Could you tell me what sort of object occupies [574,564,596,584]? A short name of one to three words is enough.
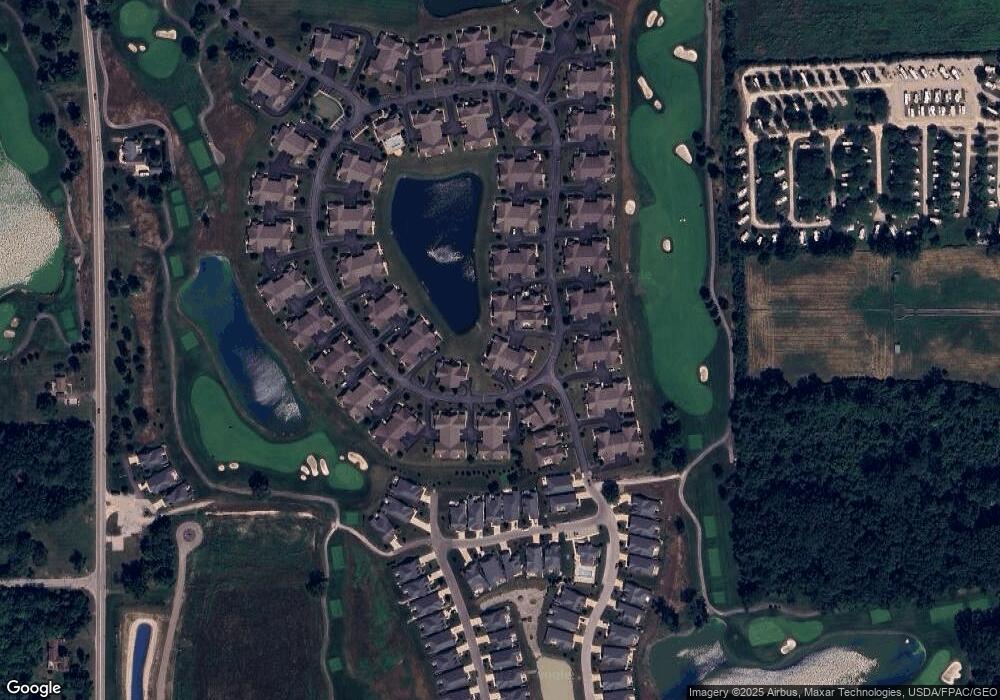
swimming pool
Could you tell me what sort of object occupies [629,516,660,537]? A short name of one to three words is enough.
house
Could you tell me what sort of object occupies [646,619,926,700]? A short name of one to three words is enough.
pond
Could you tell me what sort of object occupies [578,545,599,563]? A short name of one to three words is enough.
building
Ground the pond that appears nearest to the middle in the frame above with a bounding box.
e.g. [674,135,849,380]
[391,173,482,334]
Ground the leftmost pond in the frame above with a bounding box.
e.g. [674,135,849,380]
[0,156,61,297]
